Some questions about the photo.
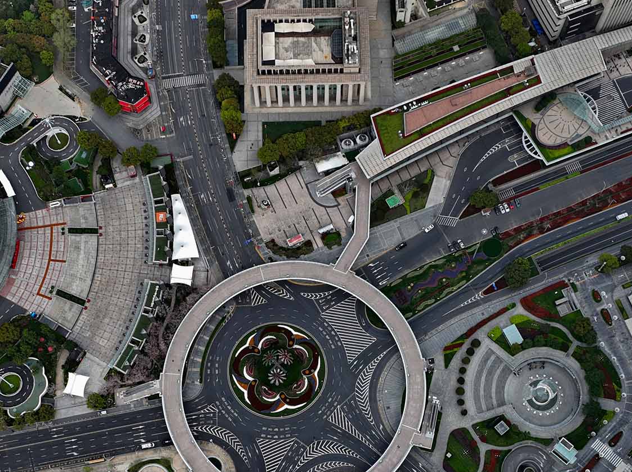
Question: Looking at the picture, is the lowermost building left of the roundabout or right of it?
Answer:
to the right of it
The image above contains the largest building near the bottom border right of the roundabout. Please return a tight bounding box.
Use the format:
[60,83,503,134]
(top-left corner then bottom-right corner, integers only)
[550,438,577,465]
